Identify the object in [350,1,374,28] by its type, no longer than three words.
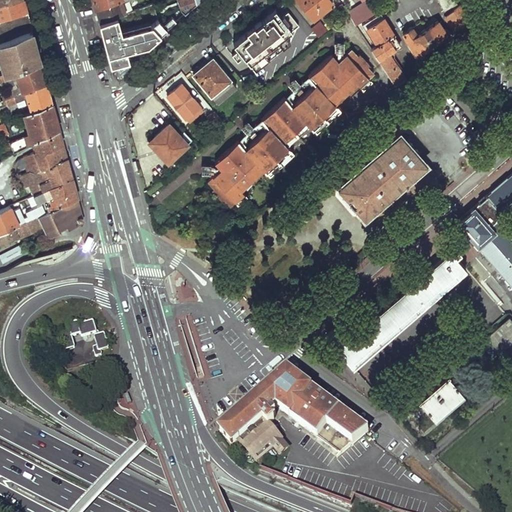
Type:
shed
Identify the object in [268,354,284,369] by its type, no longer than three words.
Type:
vehicle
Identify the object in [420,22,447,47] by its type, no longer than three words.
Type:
house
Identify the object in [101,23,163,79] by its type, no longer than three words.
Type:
building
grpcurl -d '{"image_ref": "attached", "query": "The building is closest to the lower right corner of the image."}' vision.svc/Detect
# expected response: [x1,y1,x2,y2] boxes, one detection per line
[420,380,466,436]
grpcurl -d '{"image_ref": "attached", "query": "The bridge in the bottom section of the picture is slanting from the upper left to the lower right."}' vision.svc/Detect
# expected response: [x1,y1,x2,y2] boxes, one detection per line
[150,428,234,512]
